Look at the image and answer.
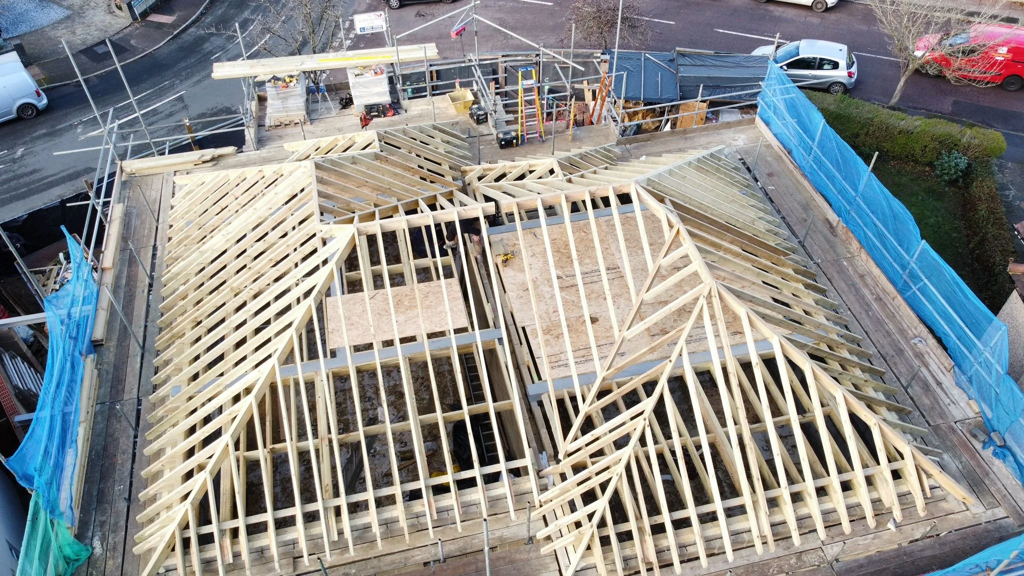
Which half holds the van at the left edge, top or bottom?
top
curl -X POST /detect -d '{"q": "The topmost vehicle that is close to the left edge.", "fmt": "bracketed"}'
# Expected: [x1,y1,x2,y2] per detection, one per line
[0,50,49,120]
